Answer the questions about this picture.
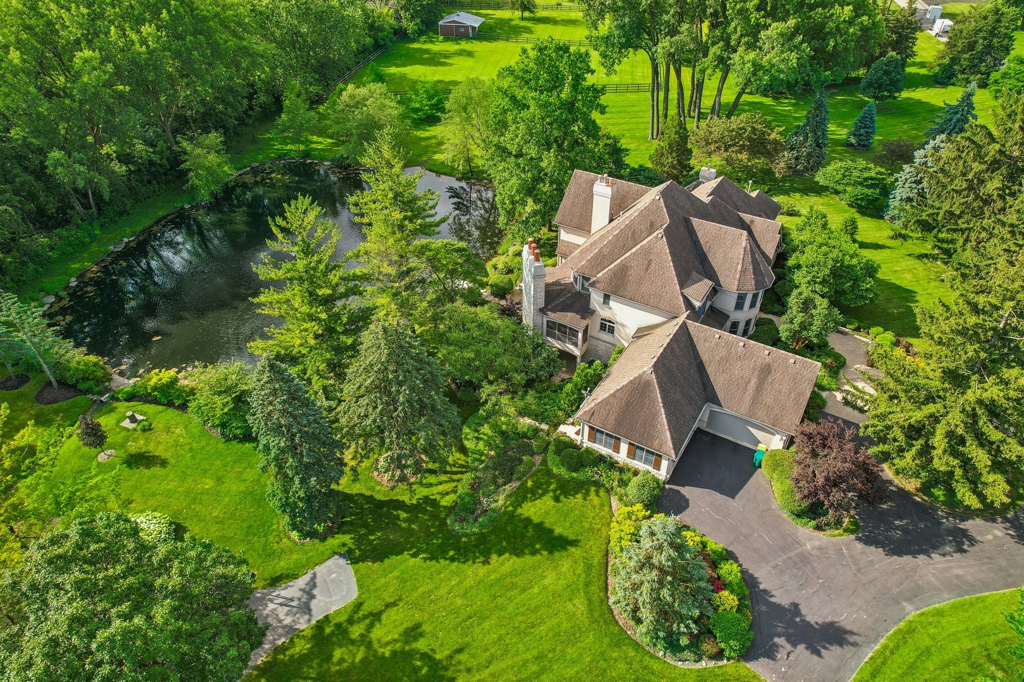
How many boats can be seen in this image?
zero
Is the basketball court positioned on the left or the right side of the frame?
left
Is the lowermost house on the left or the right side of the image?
right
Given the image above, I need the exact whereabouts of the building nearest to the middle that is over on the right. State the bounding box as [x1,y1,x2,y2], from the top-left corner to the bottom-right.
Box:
[522,161,822,479]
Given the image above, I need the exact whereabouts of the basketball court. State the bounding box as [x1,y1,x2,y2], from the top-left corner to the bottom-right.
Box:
[192,552,357,682]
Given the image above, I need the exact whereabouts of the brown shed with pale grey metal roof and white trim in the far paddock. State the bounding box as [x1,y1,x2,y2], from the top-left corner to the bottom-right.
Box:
[429,10,486,38]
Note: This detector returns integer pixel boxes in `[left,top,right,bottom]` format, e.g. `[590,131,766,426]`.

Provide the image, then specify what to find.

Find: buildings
[429,10,486,38]
[522,161,822,479]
